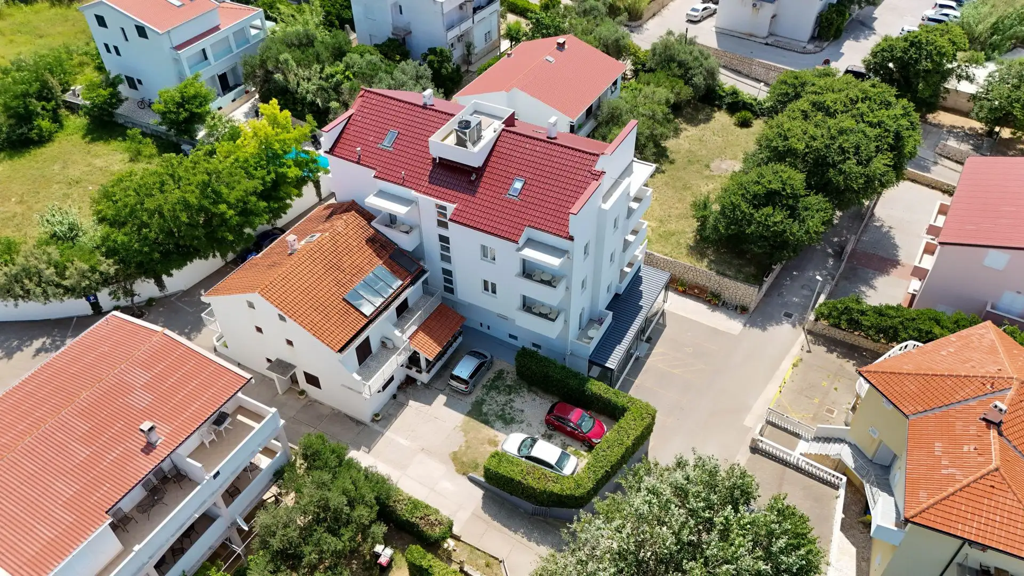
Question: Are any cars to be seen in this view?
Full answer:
Yes, this view includes a car.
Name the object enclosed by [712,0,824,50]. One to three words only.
building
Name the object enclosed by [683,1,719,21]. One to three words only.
car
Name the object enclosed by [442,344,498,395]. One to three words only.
car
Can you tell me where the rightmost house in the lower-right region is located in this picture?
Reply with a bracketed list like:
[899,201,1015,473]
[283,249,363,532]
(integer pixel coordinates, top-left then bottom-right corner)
[808,319,1024,576]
